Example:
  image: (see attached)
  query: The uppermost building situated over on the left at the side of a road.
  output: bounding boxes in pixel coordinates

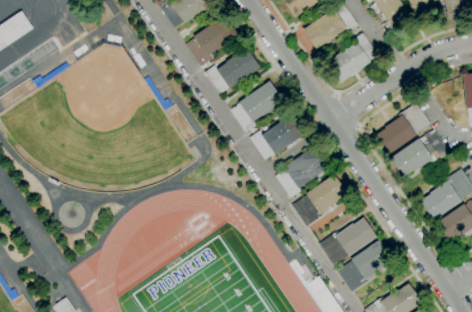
[166,0,208,28]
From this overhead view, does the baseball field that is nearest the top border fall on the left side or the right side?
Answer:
left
